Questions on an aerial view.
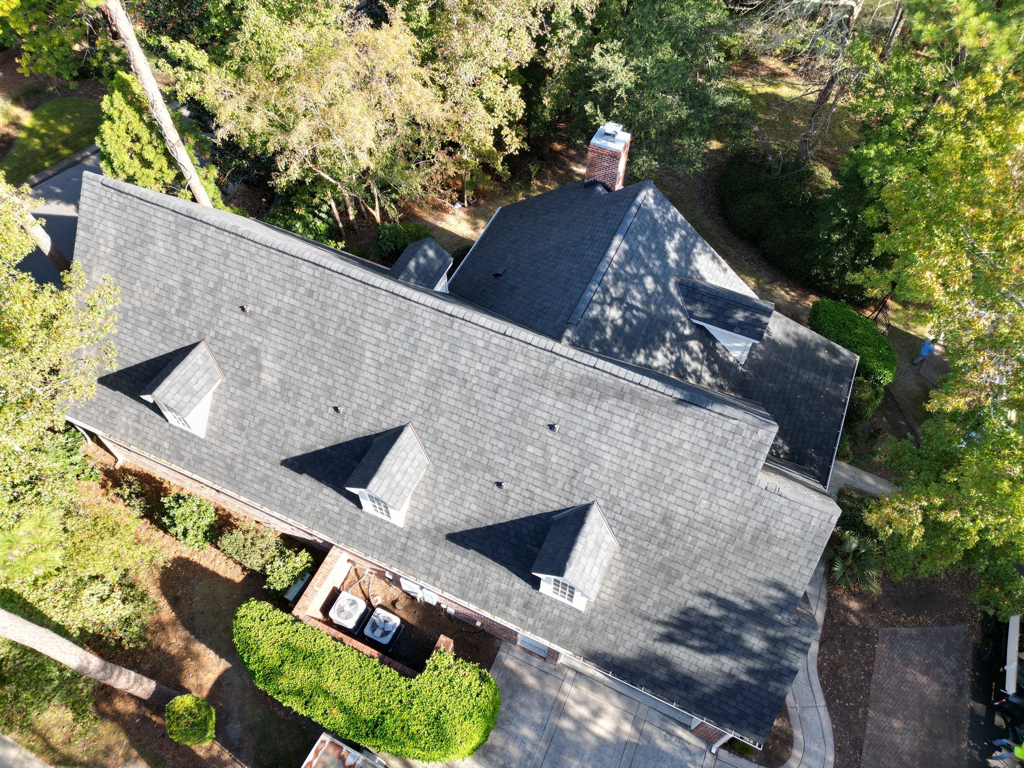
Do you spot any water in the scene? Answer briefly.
No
